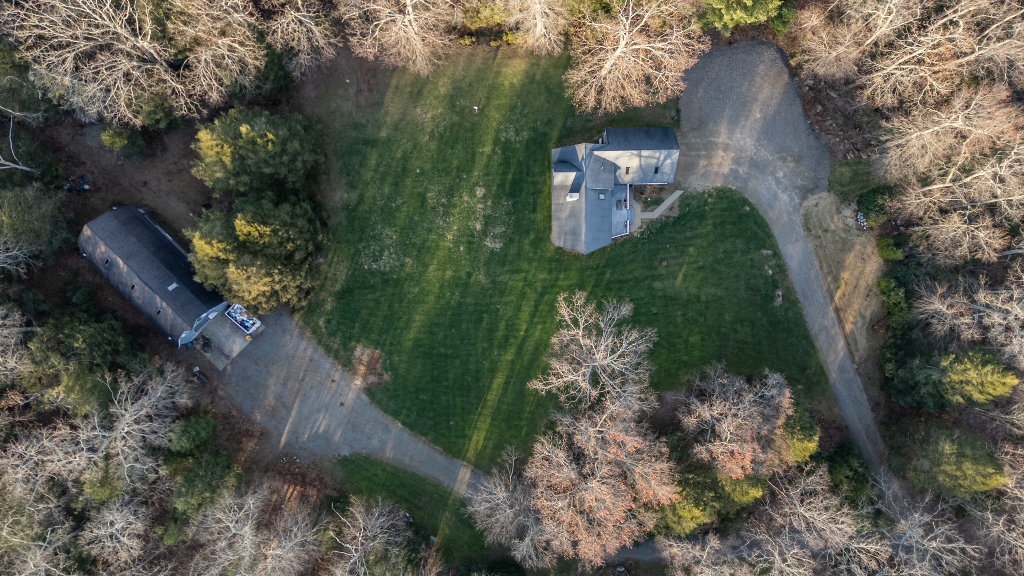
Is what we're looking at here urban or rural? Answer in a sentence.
This place is rural.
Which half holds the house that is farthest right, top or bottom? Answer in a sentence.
It is in the top half that the house that is farthest right appears.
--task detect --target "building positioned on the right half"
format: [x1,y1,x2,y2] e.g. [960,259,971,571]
[551,127,680,255]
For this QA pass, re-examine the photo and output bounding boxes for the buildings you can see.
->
[79,204,232,346]
[551,127,680,255]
